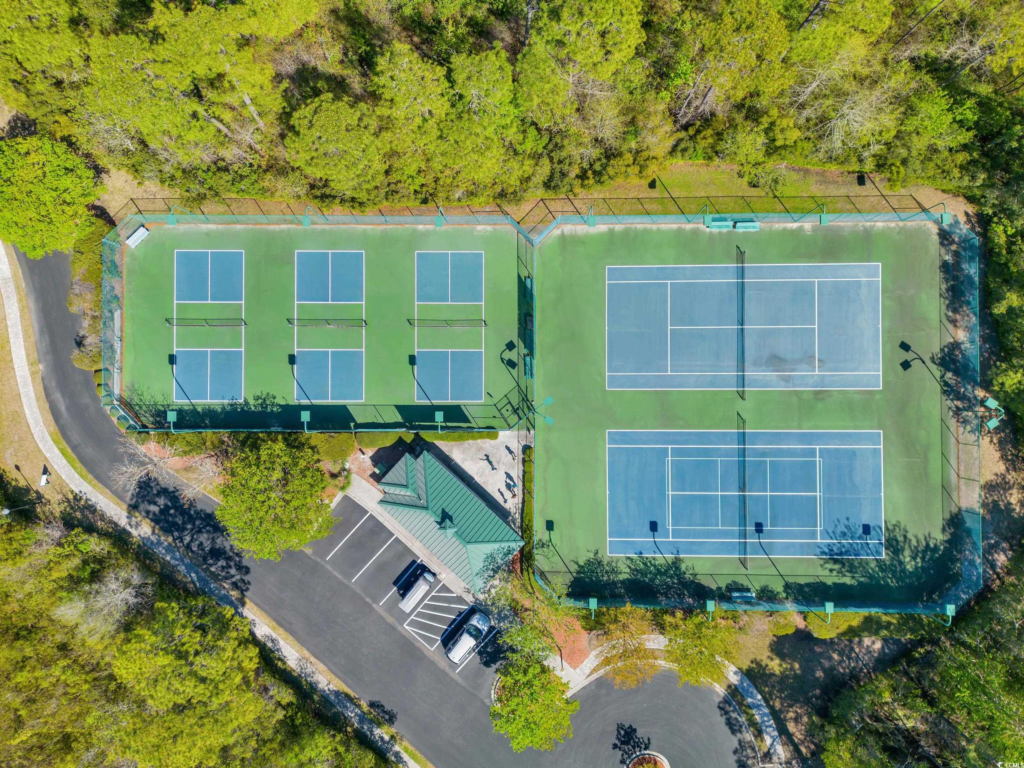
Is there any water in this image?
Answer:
No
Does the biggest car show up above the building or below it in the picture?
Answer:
below it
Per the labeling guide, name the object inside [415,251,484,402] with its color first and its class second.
blue sports court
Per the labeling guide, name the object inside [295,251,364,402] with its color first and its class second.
blue sports court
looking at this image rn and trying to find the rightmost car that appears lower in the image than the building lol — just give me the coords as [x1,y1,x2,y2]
[445,610,491,665]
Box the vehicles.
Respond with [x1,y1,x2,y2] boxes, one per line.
[397,570,435,613]
[445,610,491,665]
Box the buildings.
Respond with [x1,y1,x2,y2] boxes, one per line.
[377,450,524,593]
